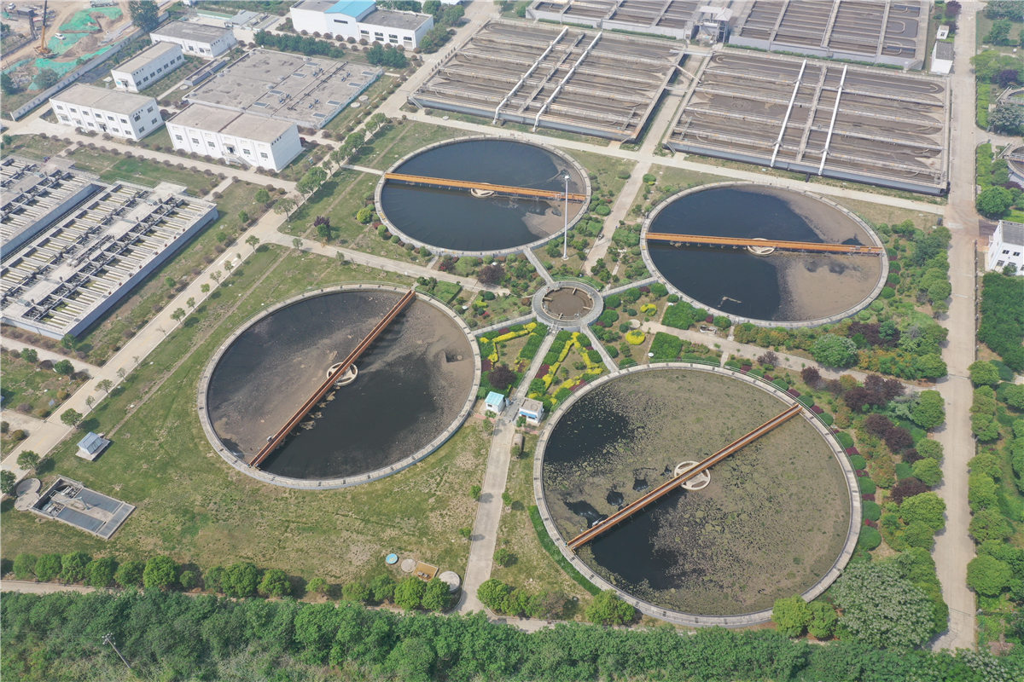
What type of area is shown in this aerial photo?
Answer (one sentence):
What you see here is an industrial area.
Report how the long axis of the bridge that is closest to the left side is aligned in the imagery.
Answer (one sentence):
In this picture, the bridge that is closest to the left side is oriented diagonally.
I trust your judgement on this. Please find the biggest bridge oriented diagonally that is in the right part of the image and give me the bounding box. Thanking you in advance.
[563,403,808,555]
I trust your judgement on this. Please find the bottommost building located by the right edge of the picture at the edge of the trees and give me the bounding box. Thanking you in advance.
[980,219,1024,275]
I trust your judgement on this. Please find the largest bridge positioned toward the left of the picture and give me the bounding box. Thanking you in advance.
[245,289,419,471]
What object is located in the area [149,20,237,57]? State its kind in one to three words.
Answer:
building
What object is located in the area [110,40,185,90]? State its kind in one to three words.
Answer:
building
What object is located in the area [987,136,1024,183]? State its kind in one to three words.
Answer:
storage tank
